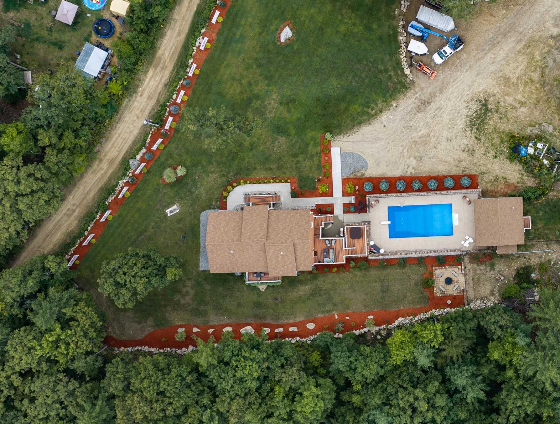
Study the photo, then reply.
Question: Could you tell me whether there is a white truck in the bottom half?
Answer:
No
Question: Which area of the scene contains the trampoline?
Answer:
top left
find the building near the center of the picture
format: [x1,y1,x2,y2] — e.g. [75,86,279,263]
[204,194,311,283]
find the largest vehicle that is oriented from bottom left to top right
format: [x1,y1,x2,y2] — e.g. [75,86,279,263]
[433,34,465,63]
